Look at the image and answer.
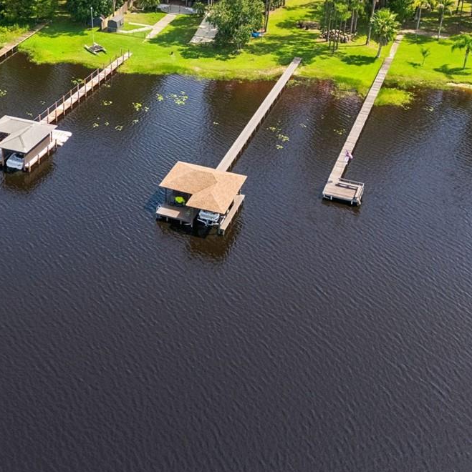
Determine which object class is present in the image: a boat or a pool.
boat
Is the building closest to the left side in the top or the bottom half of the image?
top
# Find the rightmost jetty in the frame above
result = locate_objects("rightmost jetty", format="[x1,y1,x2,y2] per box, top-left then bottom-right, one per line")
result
[322,53,398,211]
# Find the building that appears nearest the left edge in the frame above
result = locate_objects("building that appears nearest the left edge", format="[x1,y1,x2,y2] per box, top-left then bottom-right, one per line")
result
[0,114,65,177]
